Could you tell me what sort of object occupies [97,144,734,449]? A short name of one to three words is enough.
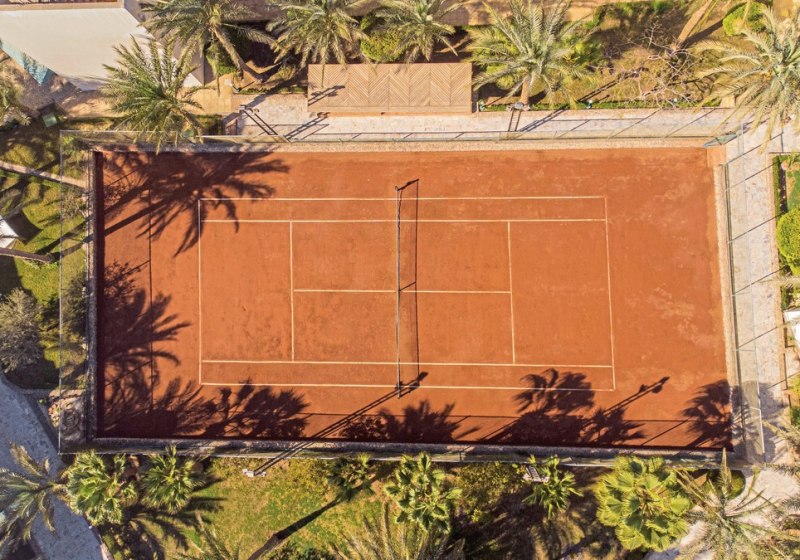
tennis court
